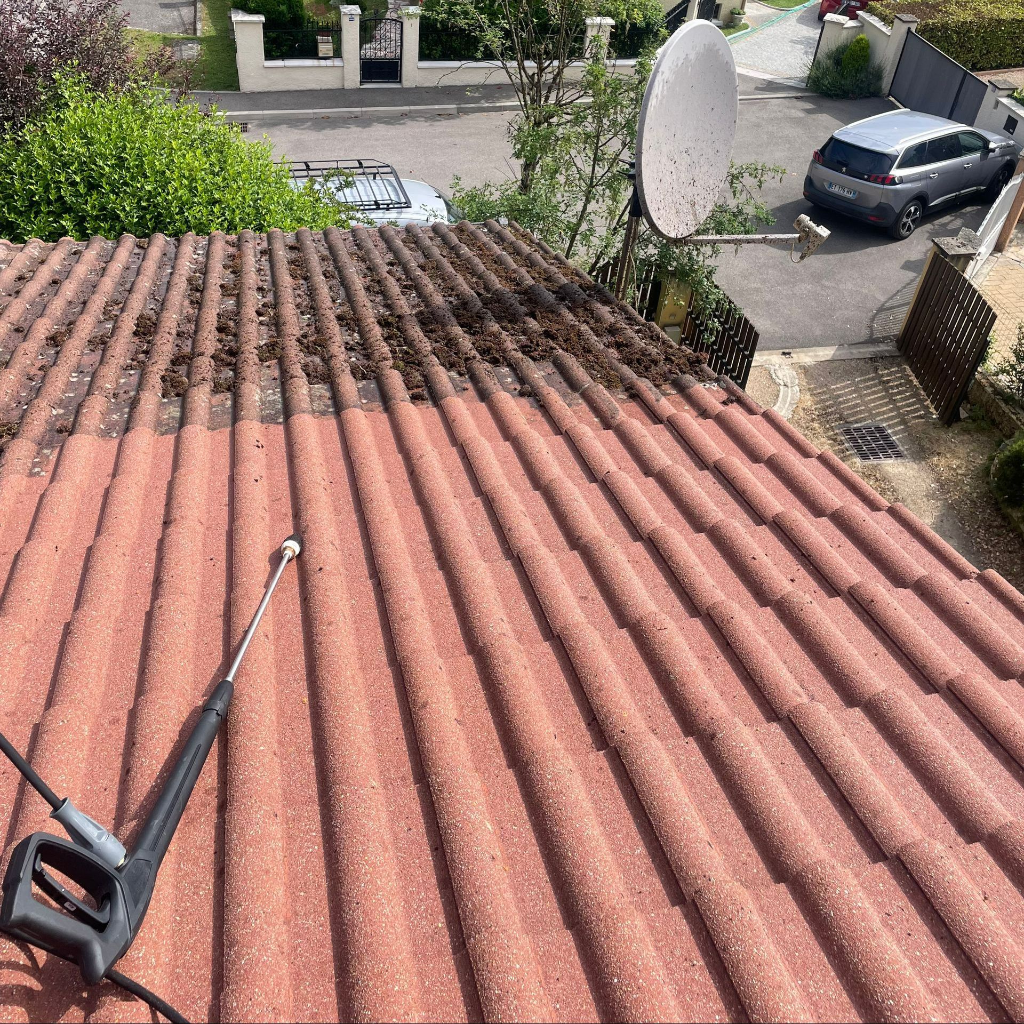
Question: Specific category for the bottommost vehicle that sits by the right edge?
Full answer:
In the photo, the bottommost vehicle that sits by the right edge shows up as an automobile.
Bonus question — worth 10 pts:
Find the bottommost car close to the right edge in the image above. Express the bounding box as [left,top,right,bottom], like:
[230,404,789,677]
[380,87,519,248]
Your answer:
[795,102,1020,238]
